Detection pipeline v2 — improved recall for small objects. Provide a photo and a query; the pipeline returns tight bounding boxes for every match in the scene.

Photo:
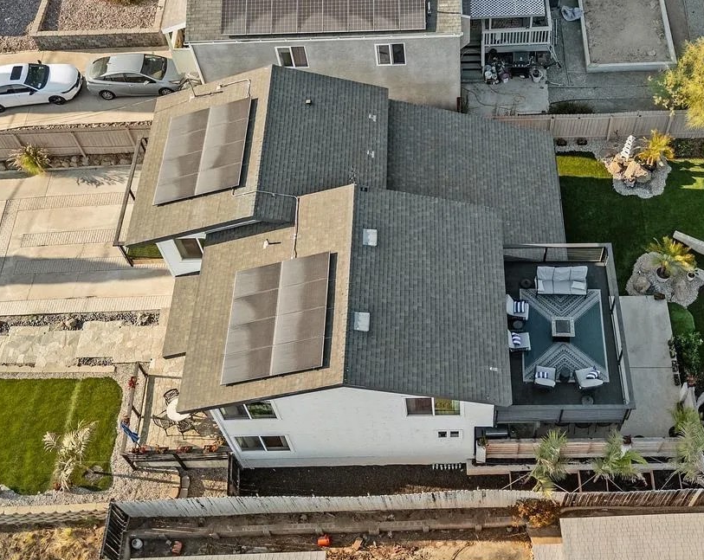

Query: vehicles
[82,50,188,101]
[0,59,82,113]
